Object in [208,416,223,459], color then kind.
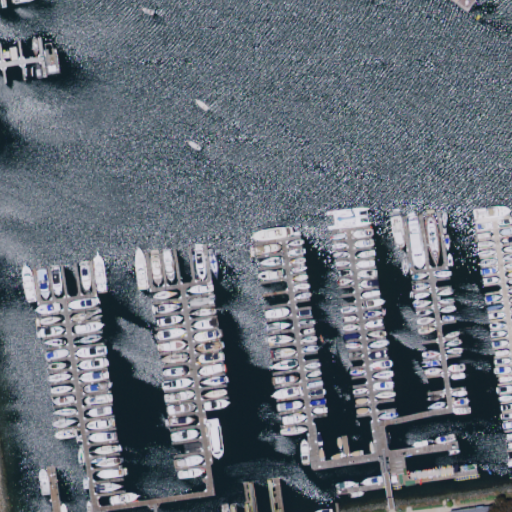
white boat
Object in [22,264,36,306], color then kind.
white boat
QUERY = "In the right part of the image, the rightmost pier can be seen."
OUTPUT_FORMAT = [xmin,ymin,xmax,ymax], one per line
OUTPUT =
[474,216,512,470]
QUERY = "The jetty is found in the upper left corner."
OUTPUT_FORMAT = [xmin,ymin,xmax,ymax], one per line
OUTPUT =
[0,36,48,84]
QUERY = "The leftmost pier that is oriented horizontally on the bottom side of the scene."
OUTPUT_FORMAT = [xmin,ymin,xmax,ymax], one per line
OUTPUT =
[92,492,216,512]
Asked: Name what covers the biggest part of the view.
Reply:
water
